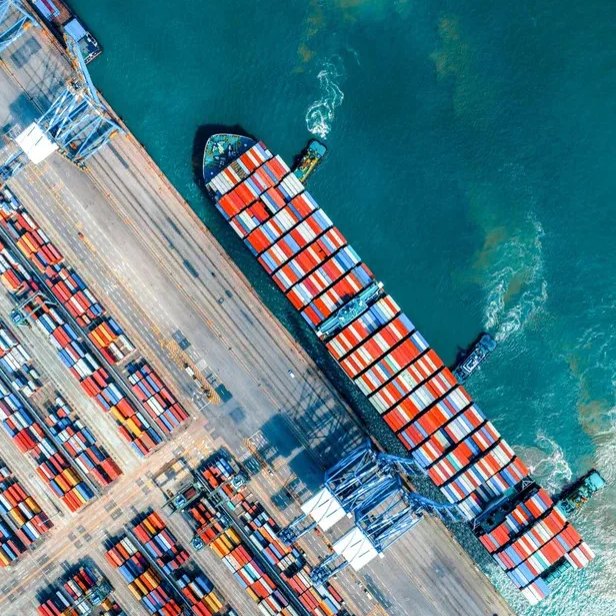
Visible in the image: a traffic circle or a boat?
boat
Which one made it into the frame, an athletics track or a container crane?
container crane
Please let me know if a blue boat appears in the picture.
Yes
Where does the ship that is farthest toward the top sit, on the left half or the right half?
left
